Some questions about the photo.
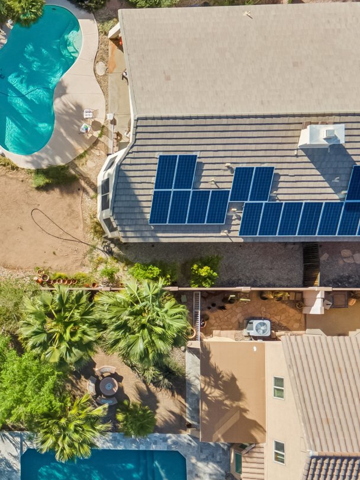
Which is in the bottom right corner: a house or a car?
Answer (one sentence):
Visible in the bottom right corner is a house.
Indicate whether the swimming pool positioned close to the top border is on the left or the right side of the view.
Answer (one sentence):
The swimming pool positioned close to the top border is on the left side of the image.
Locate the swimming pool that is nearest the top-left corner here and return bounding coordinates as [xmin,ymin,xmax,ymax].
[0,2,85,156]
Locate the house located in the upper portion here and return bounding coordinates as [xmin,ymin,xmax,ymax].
[97,1,360,242]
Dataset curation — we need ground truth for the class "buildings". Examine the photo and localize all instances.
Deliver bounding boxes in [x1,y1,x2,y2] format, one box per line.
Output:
[195,335,360,480]
[97,1,360,242]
